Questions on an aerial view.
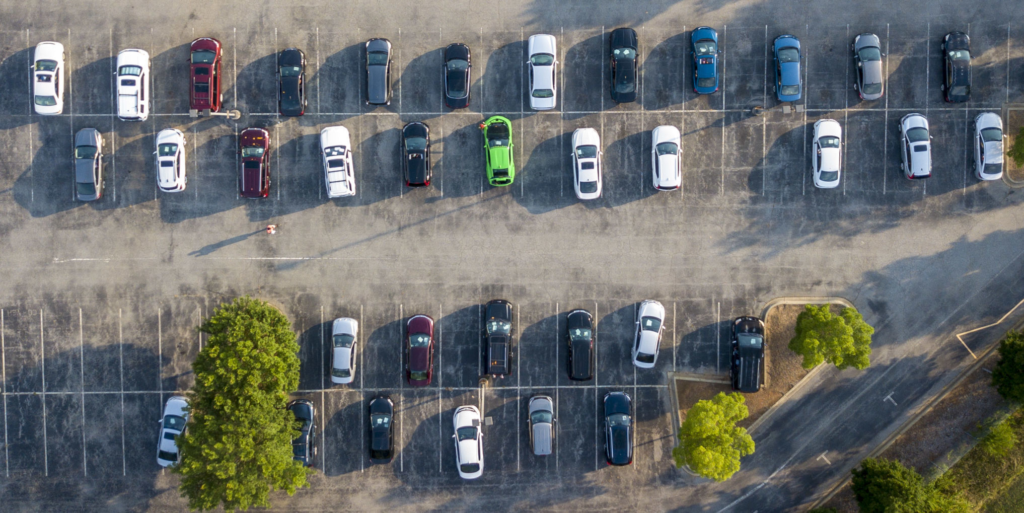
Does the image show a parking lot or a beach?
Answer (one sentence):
This looks like a parking lot.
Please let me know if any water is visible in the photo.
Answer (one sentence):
No, the picture contains no water.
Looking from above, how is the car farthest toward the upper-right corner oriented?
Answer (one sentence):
From this overhead view, the car farthest toward the upper-right corner appears to run up and down.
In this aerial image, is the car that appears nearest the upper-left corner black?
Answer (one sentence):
No, the car that appears nearest the upper-left corner is white.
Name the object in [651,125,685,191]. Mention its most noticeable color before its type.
white car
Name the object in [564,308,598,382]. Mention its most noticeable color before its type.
black car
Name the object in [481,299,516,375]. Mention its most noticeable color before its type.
black car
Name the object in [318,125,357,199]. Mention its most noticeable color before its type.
white car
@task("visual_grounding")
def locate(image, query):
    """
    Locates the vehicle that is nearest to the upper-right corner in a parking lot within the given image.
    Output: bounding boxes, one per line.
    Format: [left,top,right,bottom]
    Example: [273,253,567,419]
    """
[939,31,977,102]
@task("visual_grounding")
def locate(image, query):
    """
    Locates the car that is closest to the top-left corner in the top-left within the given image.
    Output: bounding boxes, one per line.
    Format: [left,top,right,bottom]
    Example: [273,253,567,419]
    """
[28,41,68,115]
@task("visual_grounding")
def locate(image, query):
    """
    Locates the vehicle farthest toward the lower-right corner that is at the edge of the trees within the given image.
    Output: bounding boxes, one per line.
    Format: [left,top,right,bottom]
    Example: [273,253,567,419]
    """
[731,315,768,394]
